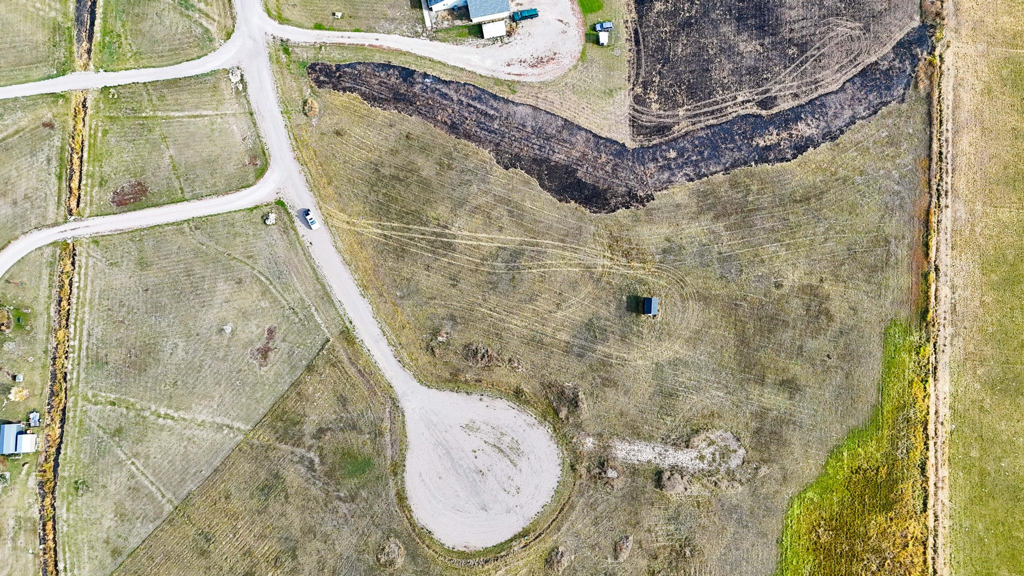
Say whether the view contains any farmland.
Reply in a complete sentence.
Yes, farmland shows up in the scene.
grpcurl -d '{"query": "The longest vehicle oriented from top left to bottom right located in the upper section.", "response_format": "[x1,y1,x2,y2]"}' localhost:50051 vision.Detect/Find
[303,208,321,231]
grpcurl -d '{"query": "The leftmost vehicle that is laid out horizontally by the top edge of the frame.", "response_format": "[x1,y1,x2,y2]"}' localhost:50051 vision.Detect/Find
[514,7,540,20]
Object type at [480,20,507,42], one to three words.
shed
